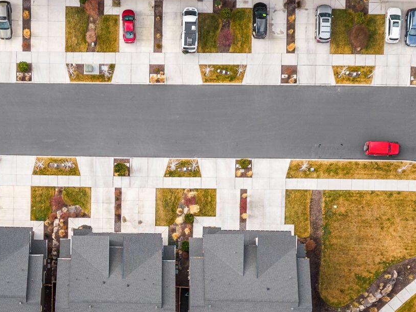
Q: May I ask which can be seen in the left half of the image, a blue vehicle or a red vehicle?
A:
red vehicle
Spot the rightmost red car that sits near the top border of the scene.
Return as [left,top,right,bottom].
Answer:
[121,9,137,45]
